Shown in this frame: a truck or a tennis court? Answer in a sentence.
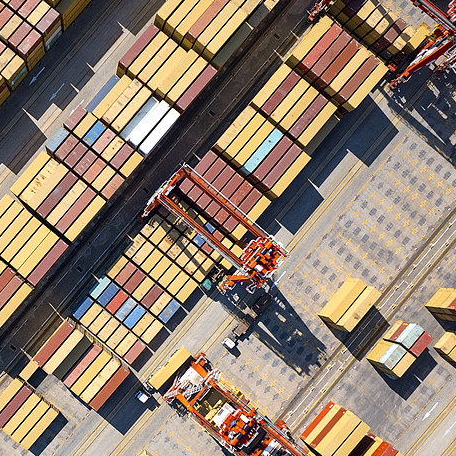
Looking from above, you can make out a truck.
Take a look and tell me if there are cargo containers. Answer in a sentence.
Yes, a cargo container appears in the view.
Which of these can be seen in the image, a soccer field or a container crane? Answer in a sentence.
The one in the frame is a container crane.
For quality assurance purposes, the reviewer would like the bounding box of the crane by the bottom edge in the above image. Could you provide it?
[159,347,315,456]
